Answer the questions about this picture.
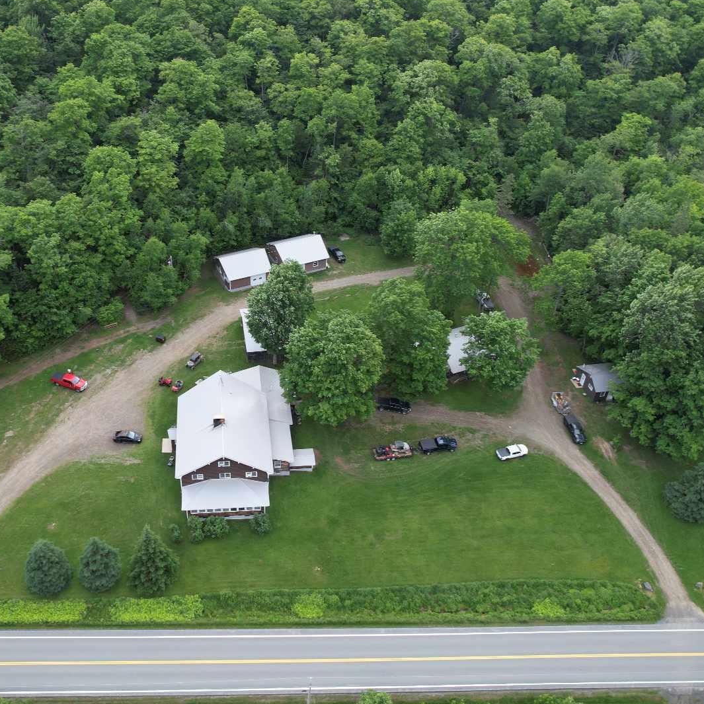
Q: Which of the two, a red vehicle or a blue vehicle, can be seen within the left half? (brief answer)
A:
red vehicle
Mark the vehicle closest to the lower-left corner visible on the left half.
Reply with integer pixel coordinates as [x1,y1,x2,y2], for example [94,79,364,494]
[112,430,142,443]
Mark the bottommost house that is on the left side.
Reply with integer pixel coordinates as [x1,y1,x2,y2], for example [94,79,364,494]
[162,365,317,520]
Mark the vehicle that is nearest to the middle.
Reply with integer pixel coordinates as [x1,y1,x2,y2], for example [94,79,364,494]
[376,398,411,414]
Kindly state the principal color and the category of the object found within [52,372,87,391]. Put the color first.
red vehicle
